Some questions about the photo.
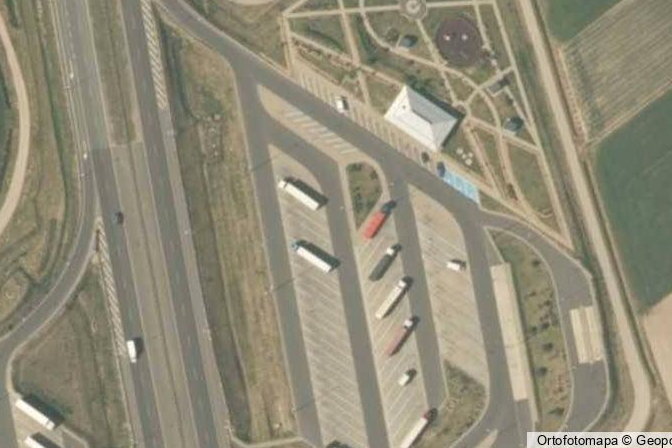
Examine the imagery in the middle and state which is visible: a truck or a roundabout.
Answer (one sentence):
The feature located in the middle is a truck.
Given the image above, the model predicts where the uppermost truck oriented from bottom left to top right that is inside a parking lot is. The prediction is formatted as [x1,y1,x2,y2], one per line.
[365,200,396,239]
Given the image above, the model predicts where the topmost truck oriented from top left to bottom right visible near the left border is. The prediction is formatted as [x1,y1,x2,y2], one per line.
[14,399,55,430]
